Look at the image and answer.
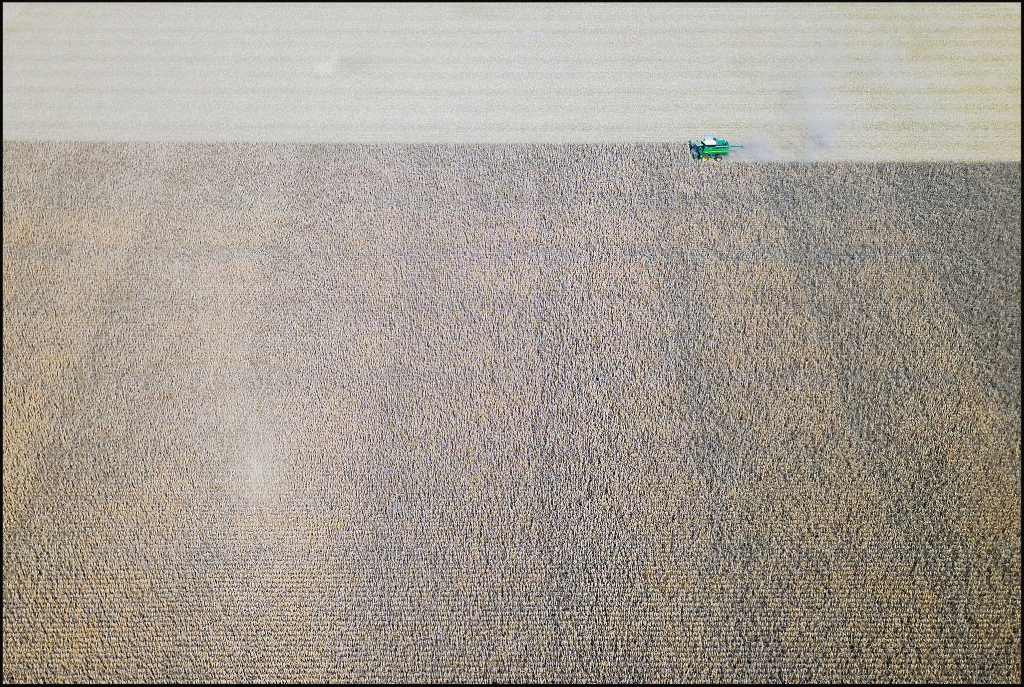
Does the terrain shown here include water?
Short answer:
No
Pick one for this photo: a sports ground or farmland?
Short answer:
farmland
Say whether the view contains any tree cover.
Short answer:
No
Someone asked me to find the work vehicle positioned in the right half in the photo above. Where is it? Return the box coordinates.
[682,135,744,168]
